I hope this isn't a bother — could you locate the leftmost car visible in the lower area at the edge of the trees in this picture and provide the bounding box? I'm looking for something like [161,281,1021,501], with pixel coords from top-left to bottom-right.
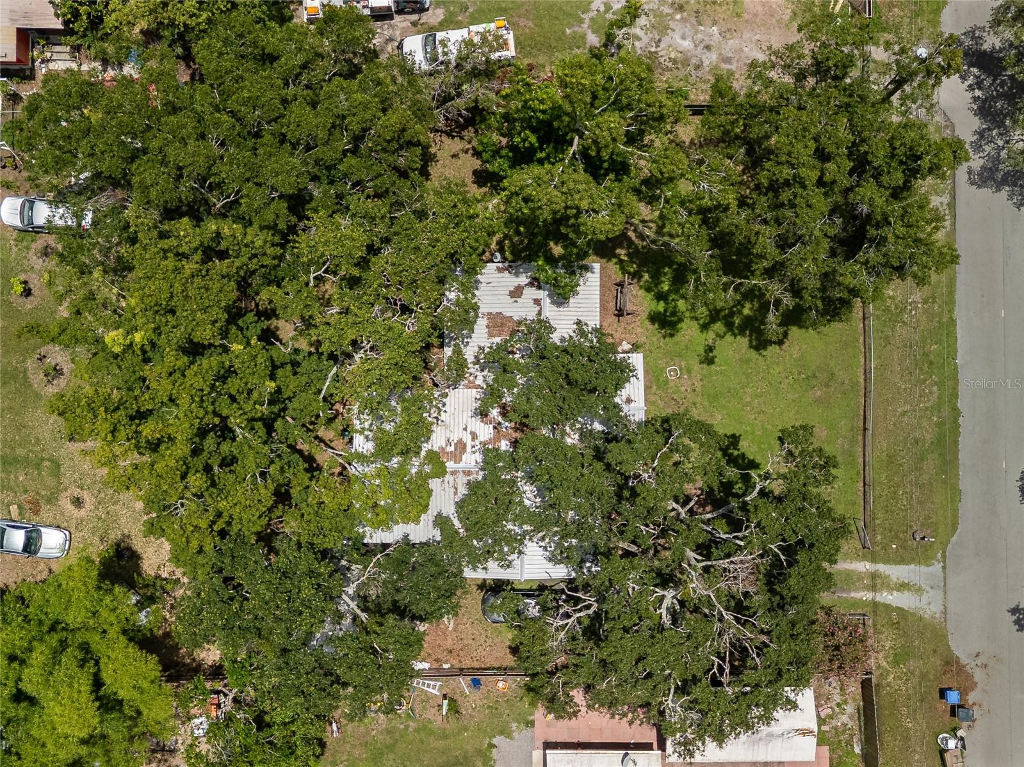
[0,515,77,563]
